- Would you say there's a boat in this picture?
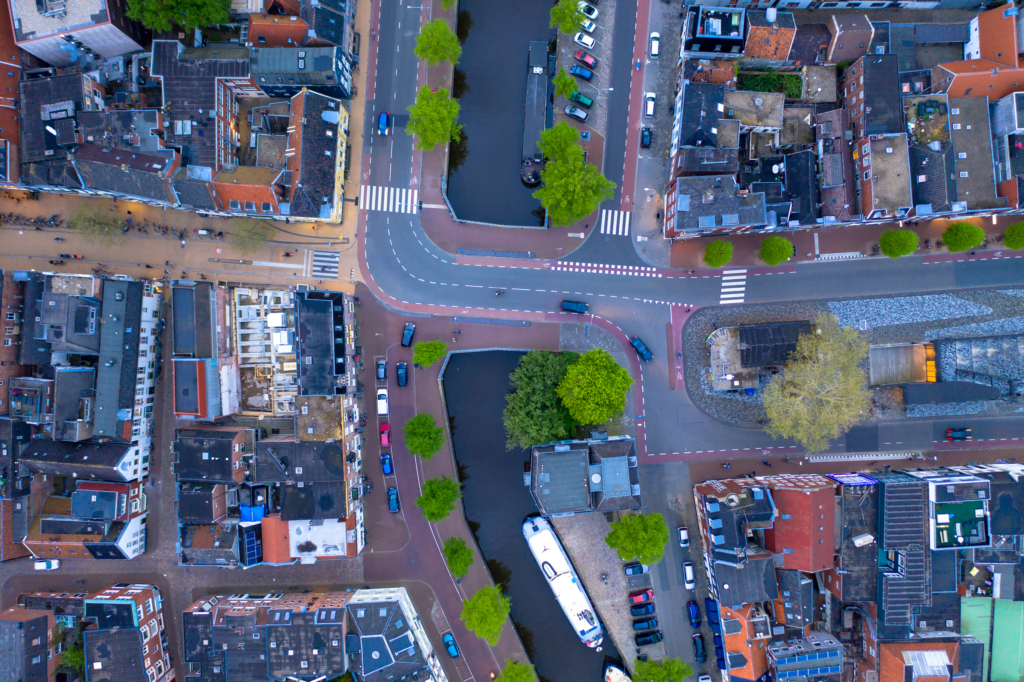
Yes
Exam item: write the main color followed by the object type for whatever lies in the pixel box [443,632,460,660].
blue car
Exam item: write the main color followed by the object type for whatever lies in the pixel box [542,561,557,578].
white boat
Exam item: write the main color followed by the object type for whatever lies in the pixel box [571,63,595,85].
blue car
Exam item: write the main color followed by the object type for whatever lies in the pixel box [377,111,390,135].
blue vehicle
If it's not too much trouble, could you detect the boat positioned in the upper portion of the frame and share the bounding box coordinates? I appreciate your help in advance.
[521,41,549,186]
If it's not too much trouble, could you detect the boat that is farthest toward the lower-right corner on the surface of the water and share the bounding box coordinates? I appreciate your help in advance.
[602,661,633,682]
